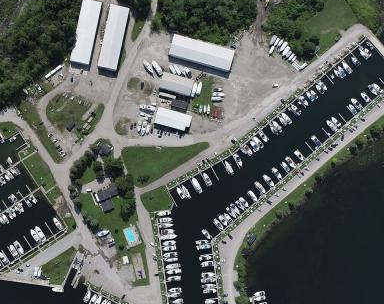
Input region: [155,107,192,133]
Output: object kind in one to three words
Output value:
building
